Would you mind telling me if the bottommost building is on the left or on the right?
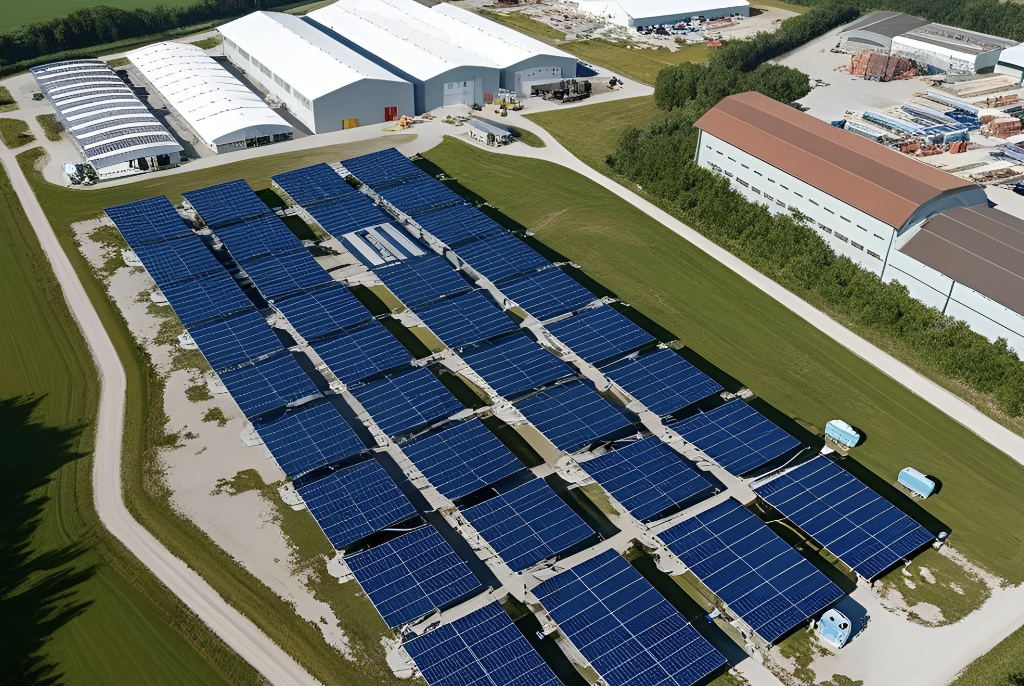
right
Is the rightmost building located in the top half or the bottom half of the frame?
top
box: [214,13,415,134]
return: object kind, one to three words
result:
building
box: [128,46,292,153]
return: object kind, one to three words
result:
shed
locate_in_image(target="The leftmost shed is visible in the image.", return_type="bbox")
[19,59,185,178]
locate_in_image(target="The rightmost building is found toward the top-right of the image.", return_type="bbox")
[996,38,1024,83]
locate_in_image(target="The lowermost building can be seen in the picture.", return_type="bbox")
[881,202,1024,351]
